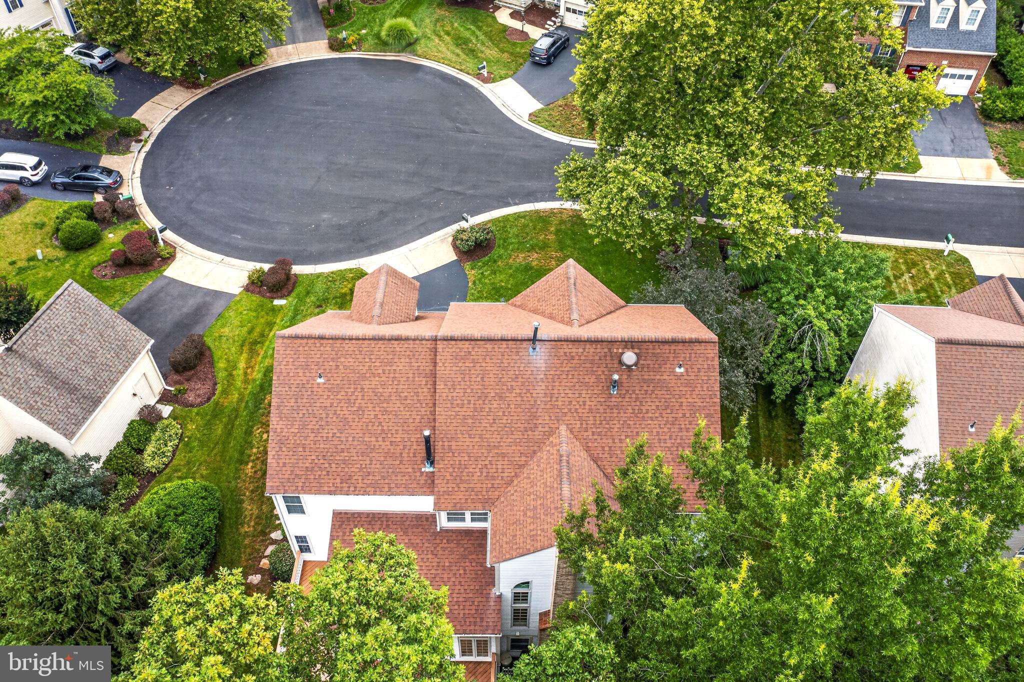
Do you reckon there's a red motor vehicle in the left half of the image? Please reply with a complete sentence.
No, no red motor vehicle can be made out in the left half of the image.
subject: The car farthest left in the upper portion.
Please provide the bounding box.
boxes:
[0,151,46,187]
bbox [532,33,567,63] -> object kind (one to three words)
car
